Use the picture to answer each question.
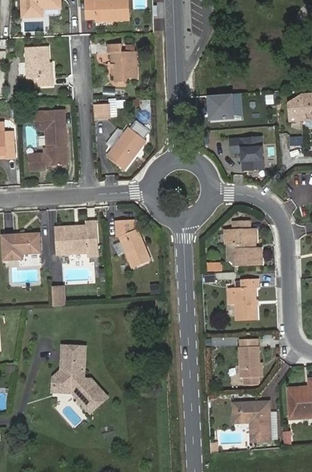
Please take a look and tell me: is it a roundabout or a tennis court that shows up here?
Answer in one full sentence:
There is a roundabout in the scene.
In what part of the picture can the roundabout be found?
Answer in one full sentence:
Look in the center portion of the view to spot the roundabout.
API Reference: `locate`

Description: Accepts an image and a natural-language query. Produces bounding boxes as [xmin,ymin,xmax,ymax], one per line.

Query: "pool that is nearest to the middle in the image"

[65,267,91,282]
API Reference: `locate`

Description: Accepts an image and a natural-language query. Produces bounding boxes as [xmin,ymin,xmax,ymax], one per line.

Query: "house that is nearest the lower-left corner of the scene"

[50,344,110,414]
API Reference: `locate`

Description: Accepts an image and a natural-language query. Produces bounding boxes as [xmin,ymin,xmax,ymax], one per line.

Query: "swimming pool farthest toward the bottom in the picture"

[220,431,243,444]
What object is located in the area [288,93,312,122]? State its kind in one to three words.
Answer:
house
